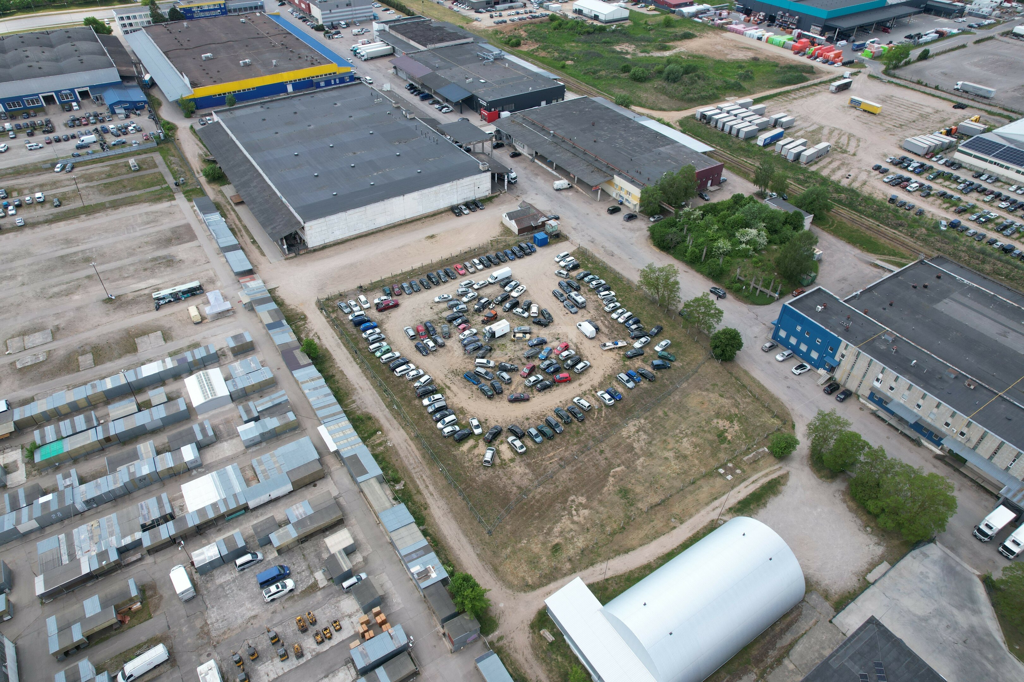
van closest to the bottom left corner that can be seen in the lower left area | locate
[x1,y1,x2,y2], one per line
[121,644,169,681]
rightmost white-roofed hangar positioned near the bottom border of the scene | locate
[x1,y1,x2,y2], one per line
[543,508,808,682]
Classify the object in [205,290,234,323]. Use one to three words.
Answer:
tent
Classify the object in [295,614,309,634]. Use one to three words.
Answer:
work vehicle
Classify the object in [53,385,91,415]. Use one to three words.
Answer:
shed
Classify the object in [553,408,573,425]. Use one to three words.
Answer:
car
